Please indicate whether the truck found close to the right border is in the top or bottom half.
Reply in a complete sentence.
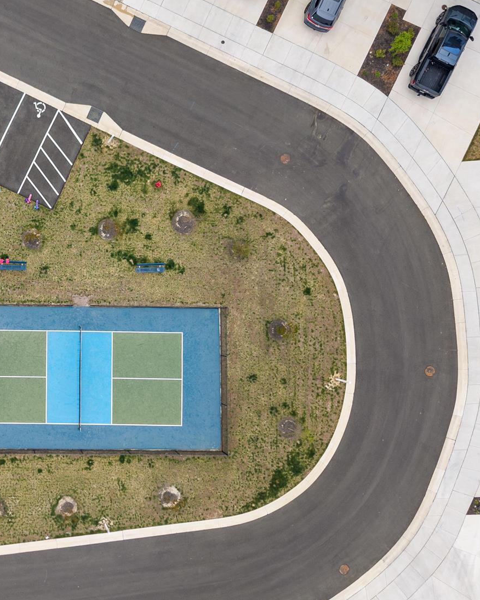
The top half of the photo is where the truck found close to the right border is.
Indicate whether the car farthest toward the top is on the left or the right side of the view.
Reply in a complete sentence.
You can find the car farthest toward the top on the right side of the picture.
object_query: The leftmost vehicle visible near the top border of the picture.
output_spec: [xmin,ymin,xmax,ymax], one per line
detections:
[306,0,347,32]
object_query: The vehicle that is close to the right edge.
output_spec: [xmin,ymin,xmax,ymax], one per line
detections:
[405,1,478,100]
